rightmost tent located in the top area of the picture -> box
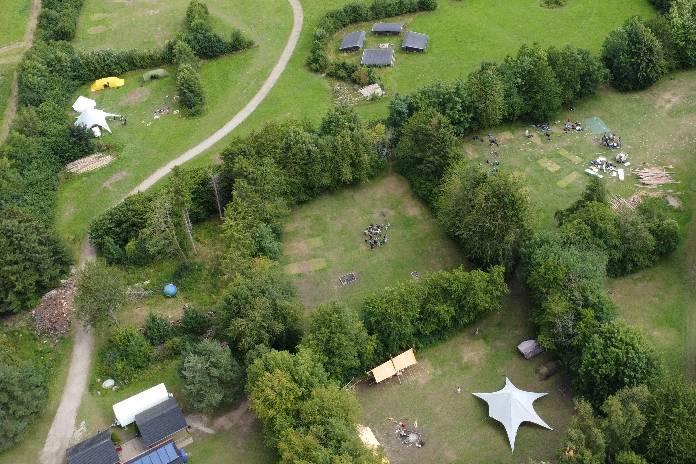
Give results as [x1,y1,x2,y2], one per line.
[139,67,172,88]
